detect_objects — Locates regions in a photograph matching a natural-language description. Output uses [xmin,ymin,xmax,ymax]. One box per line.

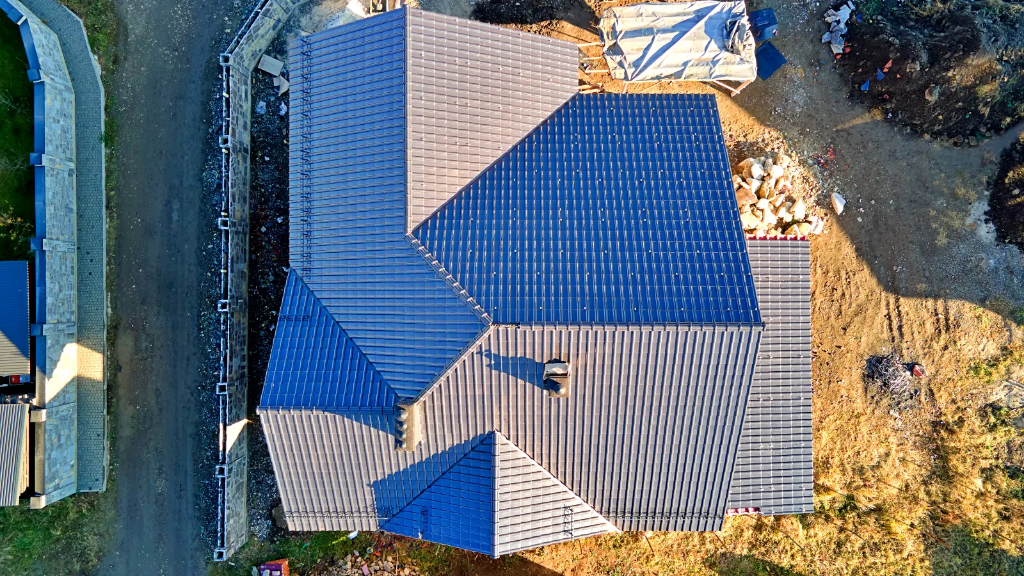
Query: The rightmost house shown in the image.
[253,3,814,561]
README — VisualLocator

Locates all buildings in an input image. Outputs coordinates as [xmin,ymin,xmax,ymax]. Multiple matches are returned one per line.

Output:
[0,261,37,377]
[0,404,37,506]
[253,3,814,561]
